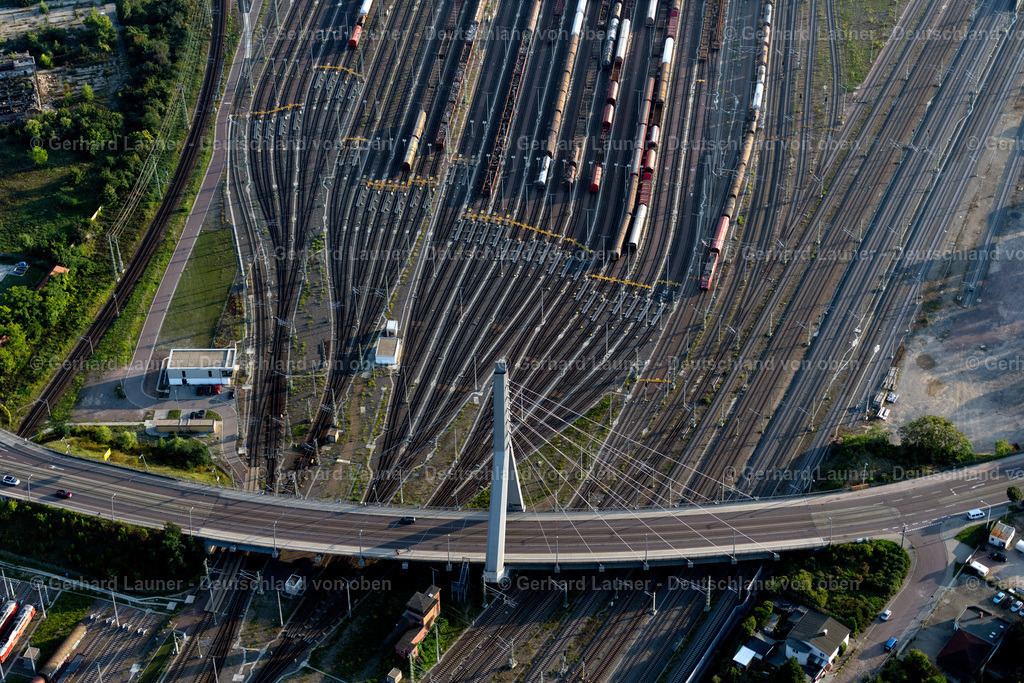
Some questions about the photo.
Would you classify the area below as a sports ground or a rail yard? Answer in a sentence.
This looks like a rail yard.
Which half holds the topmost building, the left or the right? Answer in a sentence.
The topmost building appears in the left half of the scene.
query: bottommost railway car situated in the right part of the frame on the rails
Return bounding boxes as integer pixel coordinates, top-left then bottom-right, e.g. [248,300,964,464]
[701,252,718,292]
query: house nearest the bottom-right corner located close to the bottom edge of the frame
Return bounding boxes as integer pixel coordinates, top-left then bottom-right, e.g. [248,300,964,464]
[936,602,1010,683]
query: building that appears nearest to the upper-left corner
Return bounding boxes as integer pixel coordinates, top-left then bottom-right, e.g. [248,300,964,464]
[0,41,43,116]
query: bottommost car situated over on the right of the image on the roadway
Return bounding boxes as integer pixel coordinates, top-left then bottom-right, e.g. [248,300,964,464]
[883,639,899,654]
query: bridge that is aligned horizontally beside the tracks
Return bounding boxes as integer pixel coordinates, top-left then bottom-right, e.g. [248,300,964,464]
[0,357,904,600]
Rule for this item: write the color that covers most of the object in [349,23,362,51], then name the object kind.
red rail car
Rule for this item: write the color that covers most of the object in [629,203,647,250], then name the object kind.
white rail car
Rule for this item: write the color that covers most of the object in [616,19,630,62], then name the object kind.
white rail car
